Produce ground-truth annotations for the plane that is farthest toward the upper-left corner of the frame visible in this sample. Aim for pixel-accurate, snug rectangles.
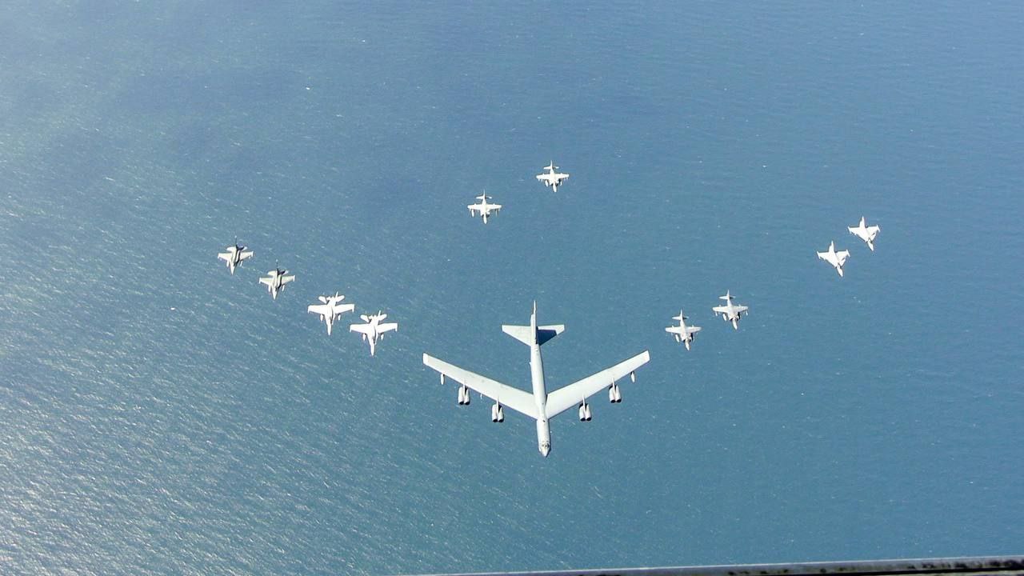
[218,236,253,274]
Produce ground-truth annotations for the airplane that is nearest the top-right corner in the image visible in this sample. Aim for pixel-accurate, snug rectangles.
[849,216,879,250]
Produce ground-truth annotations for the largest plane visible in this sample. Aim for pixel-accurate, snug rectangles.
[424,300,649,459]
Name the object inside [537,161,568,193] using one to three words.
airplane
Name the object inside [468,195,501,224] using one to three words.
airplane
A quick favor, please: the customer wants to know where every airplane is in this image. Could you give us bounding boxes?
[468,195,501,224]
[713,290,748,329]
[308,290,353,335]
[537,161,568,193]
[350,309,396,356]
[218,236,253,274]
[817,240,849,276]
[259,260,294,299]
[424,300,649,459]
[666,311,701,350]
[849,216,879,250]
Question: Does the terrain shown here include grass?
No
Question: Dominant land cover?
water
